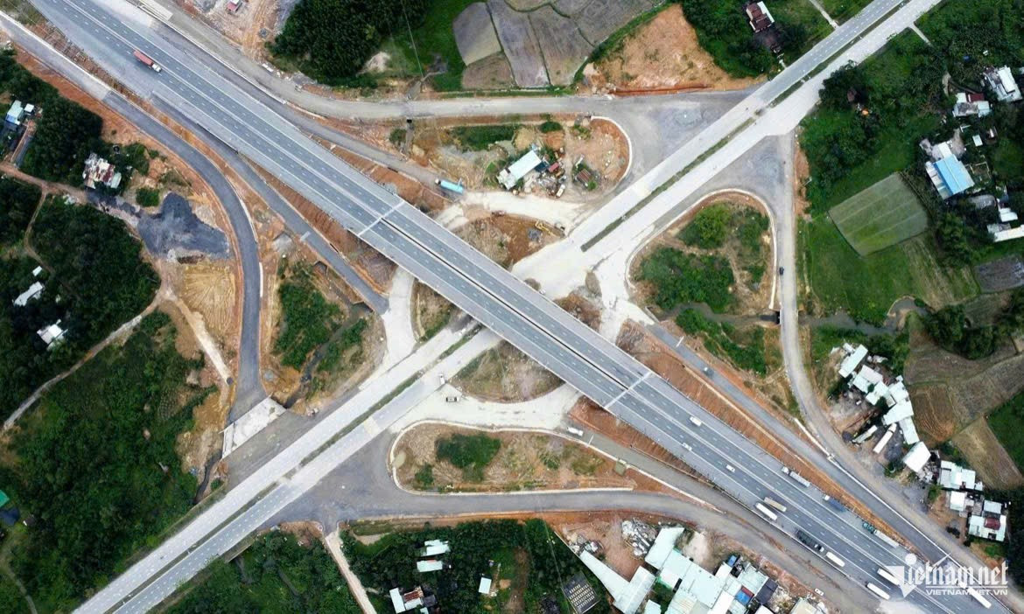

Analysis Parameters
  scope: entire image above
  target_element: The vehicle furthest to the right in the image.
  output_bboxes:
[960,579,999,614]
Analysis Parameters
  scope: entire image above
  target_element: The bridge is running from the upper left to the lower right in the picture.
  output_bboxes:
[358,201,651,407]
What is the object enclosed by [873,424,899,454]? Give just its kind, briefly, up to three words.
truck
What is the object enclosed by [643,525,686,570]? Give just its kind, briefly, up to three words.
building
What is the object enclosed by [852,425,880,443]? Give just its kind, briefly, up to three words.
vehicle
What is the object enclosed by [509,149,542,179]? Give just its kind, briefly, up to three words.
house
